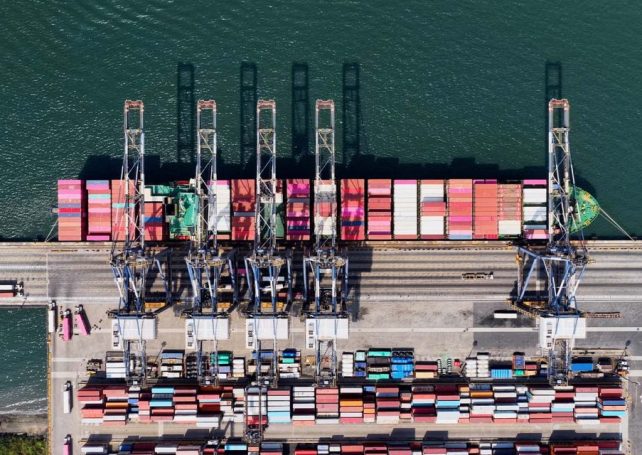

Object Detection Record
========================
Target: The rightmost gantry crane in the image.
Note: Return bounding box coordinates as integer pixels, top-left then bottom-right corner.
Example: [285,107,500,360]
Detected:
[502,100,587,385]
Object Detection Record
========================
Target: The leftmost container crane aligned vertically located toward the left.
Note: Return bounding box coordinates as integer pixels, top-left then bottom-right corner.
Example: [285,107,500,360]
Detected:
[106,100,186,385]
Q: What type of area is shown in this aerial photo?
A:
port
